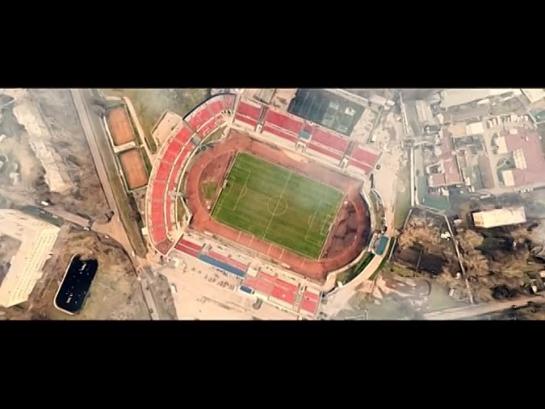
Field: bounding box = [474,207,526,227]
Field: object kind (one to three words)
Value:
building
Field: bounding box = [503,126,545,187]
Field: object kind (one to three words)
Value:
building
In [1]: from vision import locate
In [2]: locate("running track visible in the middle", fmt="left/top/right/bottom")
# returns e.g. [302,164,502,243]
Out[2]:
[188,139,368,275]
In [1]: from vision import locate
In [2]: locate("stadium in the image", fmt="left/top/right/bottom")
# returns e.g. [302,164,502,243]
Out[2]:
[145,94,382,317]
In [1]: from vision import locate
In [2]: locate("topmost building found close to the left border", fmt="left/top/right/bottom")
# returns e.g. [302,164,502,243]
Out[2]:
[14,99,80,191]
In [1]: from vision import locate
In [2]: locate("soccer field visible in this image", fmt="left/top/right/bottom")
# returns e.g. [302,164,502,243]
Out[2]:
[211,151,345,263]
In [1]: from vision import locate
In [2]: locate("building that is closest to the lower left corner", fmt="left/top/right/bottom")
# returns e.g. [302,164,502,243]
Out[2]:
[0,205,60,306]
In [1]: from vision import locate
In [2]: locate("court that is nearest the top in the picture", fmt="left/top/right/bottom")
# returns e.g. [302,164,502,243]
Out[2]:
[106,104,134,146]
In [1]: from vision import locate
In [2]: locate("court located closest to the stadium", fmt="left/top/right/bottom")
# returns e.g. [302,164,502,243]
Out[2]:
[117,147,147,189]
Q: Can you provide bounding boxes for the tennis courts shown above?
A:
[117,147,147,189]
[106,104,134,146]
